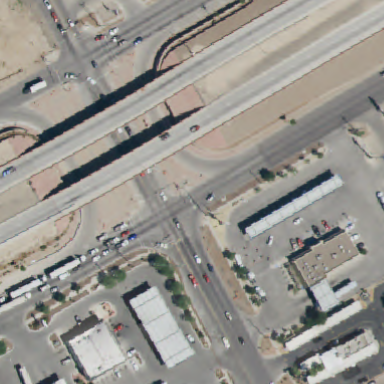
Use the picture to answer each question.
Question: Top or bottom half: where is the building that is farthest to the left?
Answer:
bottom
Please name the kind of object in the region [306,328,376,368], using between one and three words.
building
